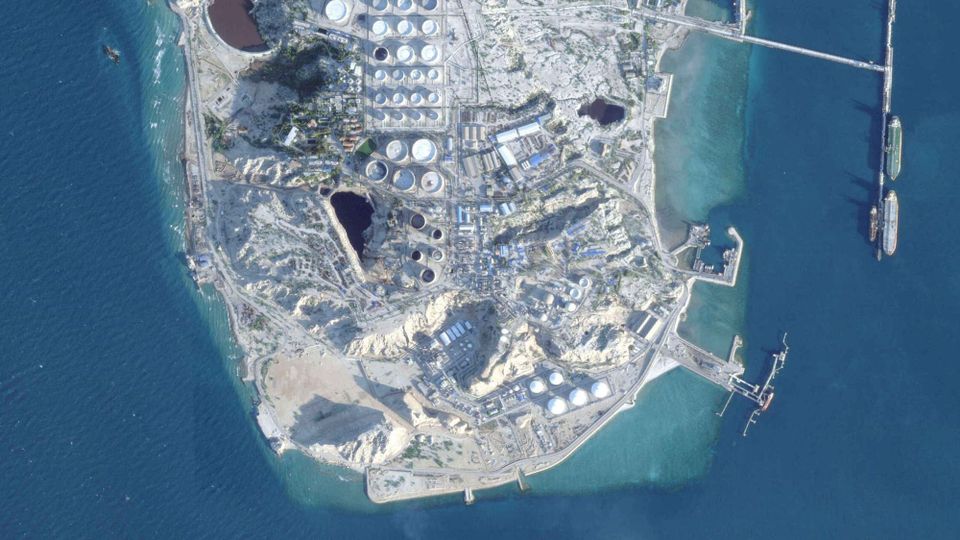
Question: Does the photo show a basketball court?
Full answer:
No, the picture doesn't show any basketball court.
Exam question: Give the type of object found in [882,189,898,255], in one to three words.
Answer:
ship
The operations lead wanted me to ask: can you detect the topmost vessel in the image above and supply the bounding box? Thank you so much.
[102,46,120,64]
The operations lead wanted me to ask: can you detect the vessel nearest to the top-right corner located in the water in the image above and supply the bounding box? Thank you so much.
[887,116,901,180]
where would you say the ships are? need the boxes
[102,46,120,64]
[762,393,773,410]
[887,116,901,180]
[882,189,898,255]
[869,205,877,241]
